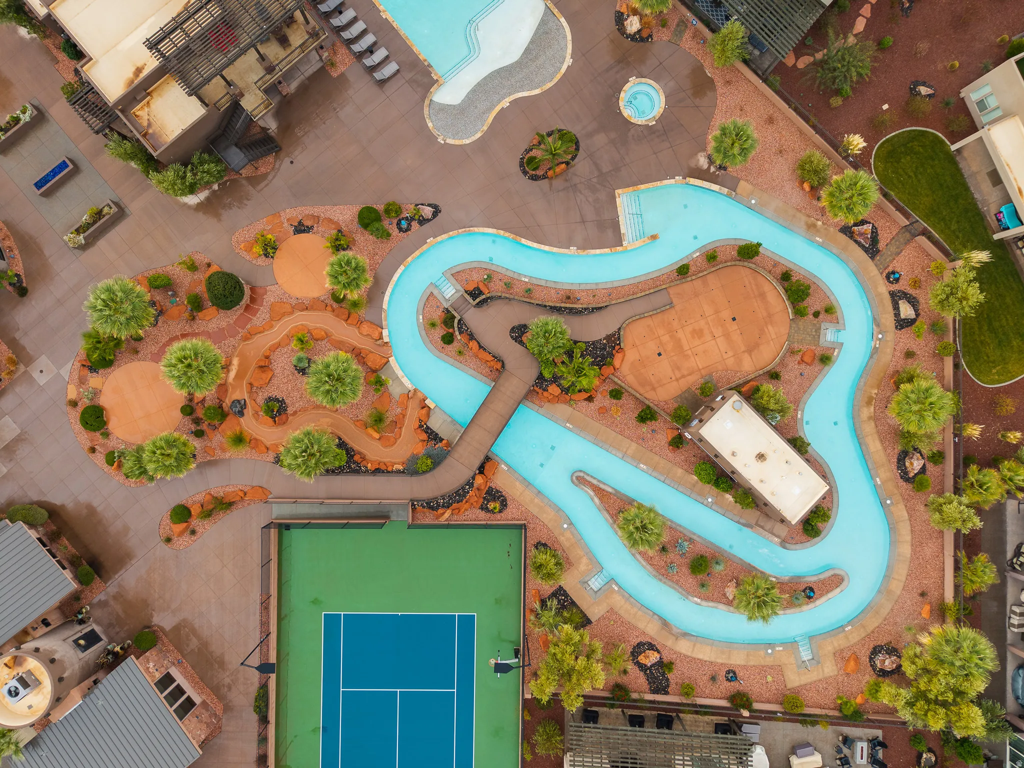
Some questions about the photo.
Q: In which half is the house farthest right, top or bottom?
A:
top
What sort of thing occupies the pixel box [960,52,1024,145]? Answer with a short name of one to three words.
house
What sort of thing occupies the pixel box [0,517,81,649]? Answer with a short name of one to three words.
building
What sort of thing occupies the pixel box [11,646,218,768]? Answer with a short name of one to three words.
building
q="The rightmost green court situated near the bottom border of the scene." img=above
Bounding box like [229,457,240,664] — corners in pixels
[280,523,521,768]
